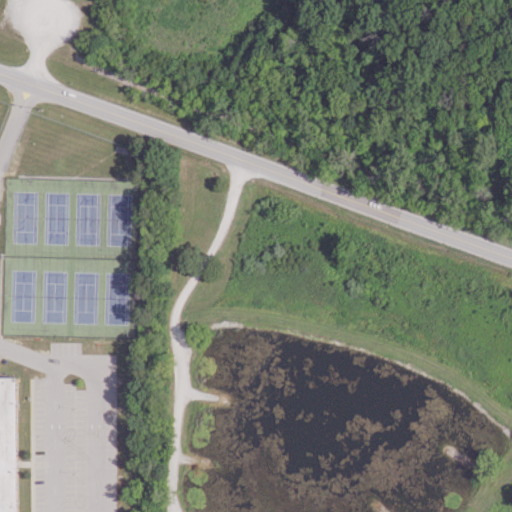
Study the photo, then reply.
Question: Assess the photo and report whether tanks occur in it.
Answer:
No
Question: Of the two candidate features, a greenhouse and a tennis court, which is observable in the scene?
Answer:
tennis court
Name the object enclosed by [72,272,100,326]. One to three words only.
tennis court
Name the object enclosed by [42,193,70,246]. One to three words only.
tennis court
